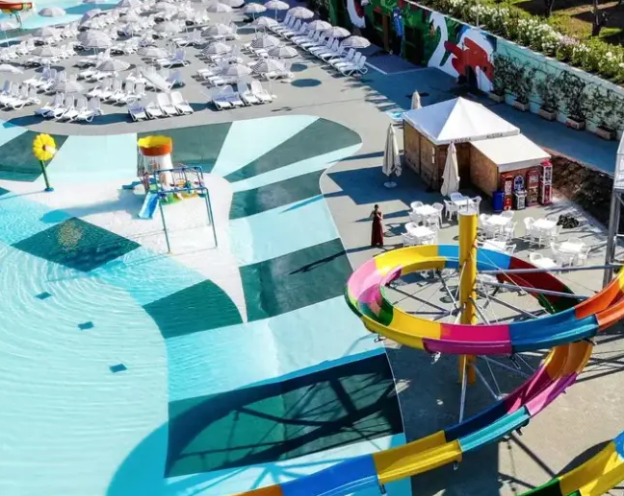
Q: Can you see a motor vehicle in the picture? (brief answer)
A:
No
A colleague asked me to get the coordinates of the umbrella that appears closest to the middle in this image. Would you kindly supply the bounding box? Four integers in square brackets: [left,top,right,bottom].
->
[381,126,399,188]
